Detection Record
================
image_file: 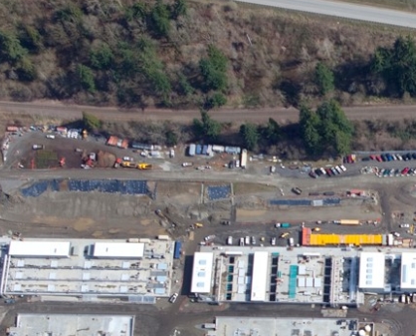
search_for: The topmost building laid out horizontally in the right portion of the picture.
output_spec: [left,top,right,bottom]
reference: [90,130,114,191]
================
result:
[189,248,416,305]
